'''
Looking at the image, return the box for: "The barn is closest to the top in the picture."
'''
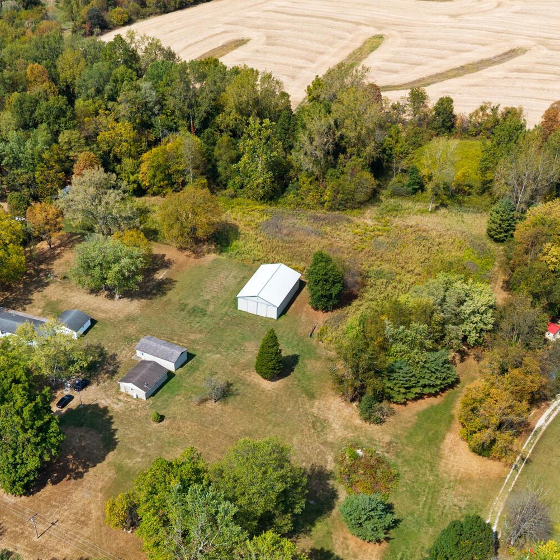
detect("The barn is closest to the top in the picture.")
[235,264,303,320]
